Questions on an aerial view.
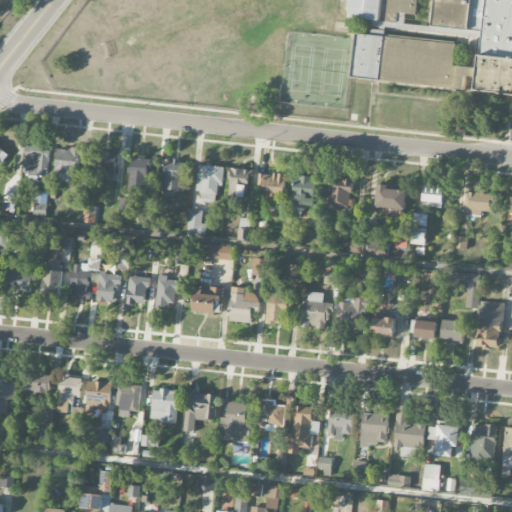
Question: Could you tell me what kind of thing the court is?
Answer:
tennis court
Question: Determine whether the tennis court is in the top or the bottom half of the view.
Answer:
top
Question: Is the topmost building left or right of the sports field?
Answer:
to the right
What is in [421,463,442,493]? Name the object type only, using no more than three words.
building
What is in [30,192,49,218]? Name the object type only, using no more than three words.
building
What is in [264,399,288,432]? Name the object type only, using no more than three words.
house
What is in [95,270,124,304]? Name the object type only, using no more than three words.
house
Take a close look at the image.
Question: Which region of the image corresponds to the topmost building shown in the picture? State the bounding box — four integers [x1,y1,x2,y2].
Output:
[346,0,512,95]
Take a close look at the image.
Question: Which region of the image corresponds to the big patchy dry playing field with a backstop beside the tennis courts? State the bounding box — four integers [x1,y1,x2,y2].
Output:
[46,0,346,114]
